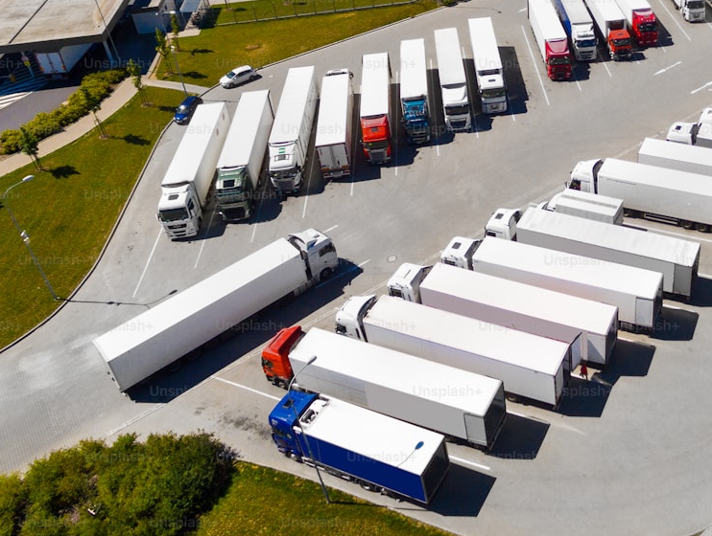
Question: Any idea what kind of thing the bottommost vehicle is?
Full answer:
It looks like the bottommost vehicle is a truck.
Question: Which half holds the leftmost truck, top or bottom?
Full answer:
The leftmost truck sits in the top half of the picture.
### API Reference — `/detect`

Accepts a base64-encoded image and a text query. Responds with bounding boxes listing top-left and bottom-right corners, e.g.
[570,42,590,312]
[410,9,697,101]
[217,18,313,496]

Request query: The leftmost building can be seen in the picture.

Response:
[132,0,177,34]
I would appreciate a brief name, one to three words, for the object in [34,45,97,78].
truck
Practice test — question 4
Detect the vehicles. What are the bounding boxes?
[171,93,204,119]
[265,67,319,190]
[541,188,623,226]
[469,17,508,115]
[258,326,506,449]
[553,0,600,63]
[442,236,663,334]
[434,27,474,130]
[400,38,434,144]
[259,392,451,509]
[583,0,636,60]
[211,89,277,221]
[330,293,571,407]
[360,52,396,165]
[485,207,701,300]
[220,61,259,84]
[615,0,661,47]
[387,263,618,369]
[528,0,576,80]
[93,229,341,396]
[566,158,712,231]
[154,101,233,239]
[34,45,97,78]
[316,67,355,178]
[670,0,710,24]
